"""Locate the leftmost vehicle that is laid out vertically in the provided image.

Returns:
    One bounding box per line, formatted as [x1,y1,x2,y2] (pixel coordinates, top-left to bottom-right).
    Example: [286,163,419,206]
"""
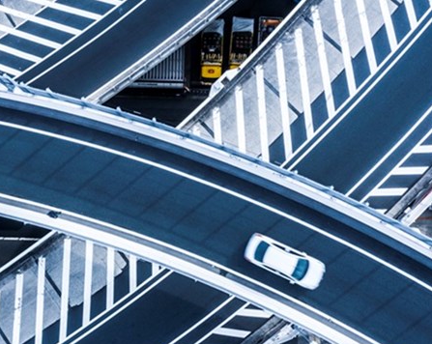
[200,16,227,82]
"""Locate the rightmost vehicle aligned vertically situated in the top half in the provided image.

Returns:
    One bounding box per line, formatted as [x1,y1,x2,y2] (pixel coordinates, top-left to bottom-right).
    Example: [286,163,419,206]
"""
[228,12,255,70]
